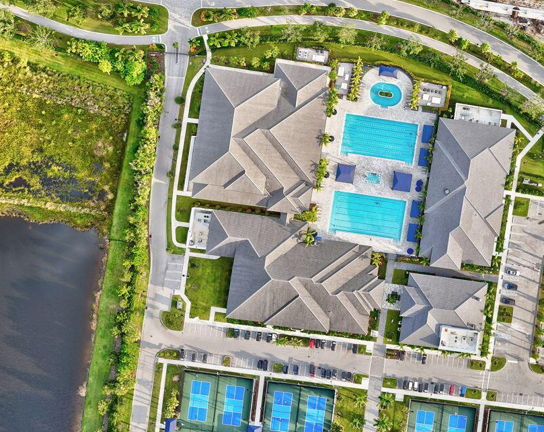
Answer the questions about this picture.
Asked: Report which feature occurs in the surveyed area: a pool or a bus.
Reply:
pool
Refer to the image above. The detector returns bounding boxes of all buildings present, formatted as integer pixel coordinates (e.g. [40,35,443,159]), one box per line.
[189,60,330,214]
[207,210,385,334]
[420,118,515,269]
[395,273,489,353]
